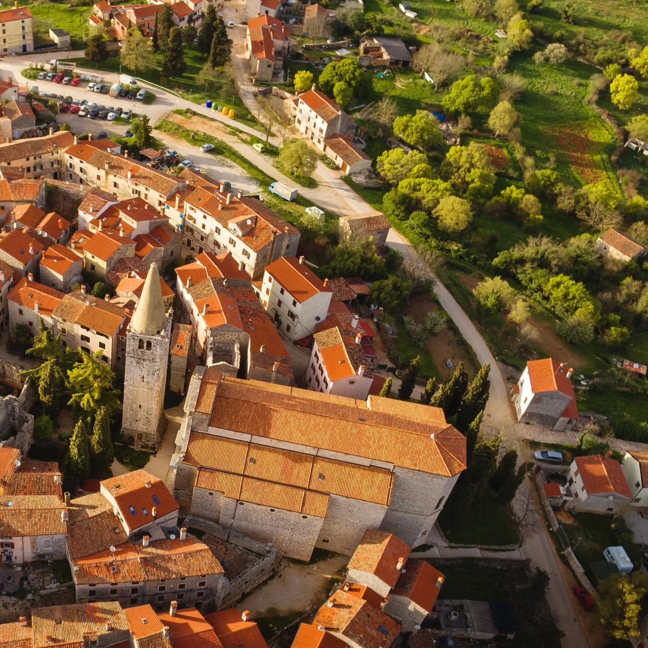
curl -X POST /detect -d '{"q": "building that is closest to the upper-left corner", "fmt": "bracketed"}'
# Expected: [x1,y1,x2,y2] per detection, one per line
[0,0,33,58]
